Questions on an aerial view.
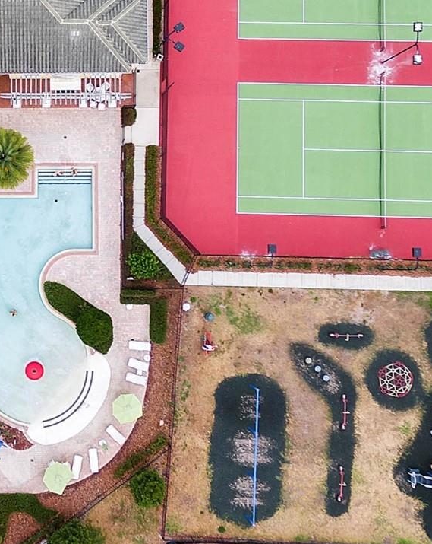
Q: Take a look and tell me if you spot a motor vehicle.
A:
No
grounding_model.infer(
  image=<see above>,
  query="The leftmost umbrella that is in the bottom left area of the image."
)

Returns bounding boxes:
[43,462,71,491]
